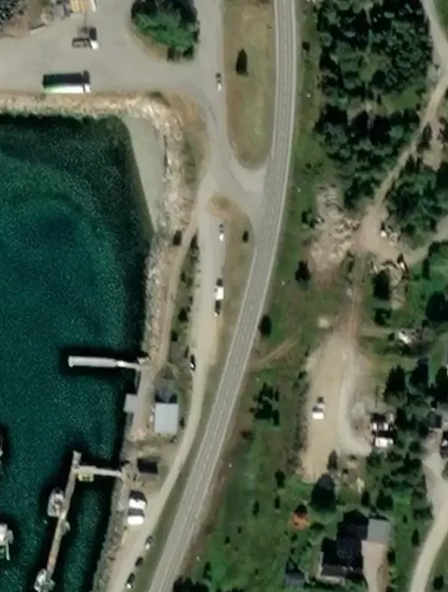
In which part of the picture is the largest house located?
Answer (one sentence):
Look in the bottom right portion of the view to spot the largest house.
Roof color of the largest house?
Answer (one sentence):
The color of the roof on the largest house is black.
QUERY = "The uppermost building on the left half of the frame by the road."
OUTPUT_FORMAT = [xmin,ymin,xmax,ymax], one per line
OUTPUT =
[152,404,179,434]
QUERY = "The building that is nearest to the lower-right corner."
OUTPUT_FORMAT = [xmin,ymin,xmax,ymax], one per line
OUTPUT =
[368,519,390,542]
